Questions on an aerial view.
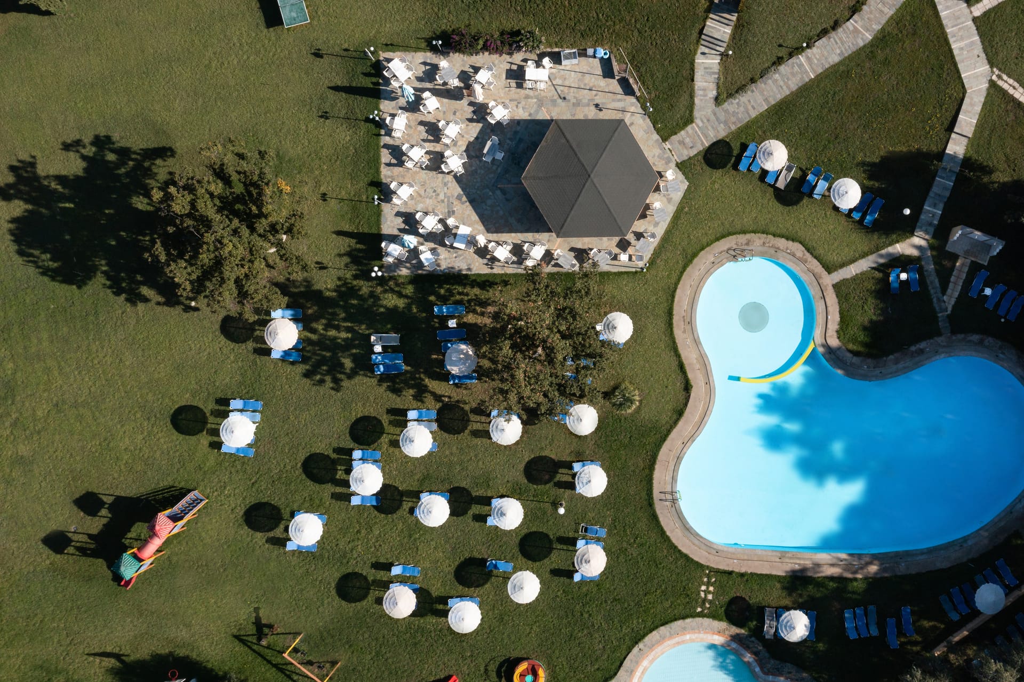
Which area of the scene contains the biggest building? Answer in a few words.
top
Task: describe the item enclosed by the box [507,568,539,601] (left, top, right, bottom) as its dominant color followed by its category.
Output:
white umbrella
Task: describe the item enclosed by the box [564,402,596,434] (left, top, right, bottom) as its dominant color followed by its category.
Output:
white umbrella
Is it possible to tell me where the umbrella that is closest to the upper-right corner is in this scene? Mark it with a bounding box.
[828,178,860,210]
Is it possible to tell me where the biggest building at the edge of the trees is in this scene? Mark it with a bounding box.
[521,117,660,239]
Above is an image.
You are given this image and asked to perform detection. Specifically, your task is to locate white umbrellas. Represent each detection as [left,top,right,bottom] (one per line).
[347,461,380,495]
[222,413,256,446]
[475,237,488,251]
[564,402,596,434]
[828,178,860,210]
[472,85,485,105]
[507,568,539,601]
[417,491,450,524]
[289,512,324,547]
[575,545,608,578]
[493,496,526,529]
[575,465,608,497]
[449,597,483,631]
[603,313,635,345]
[778,611,810,643]
[756,137,788,168]
[399,423,432,456]
[489,413,522,447]
[265,317,299,350]
[385,585,418,618]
